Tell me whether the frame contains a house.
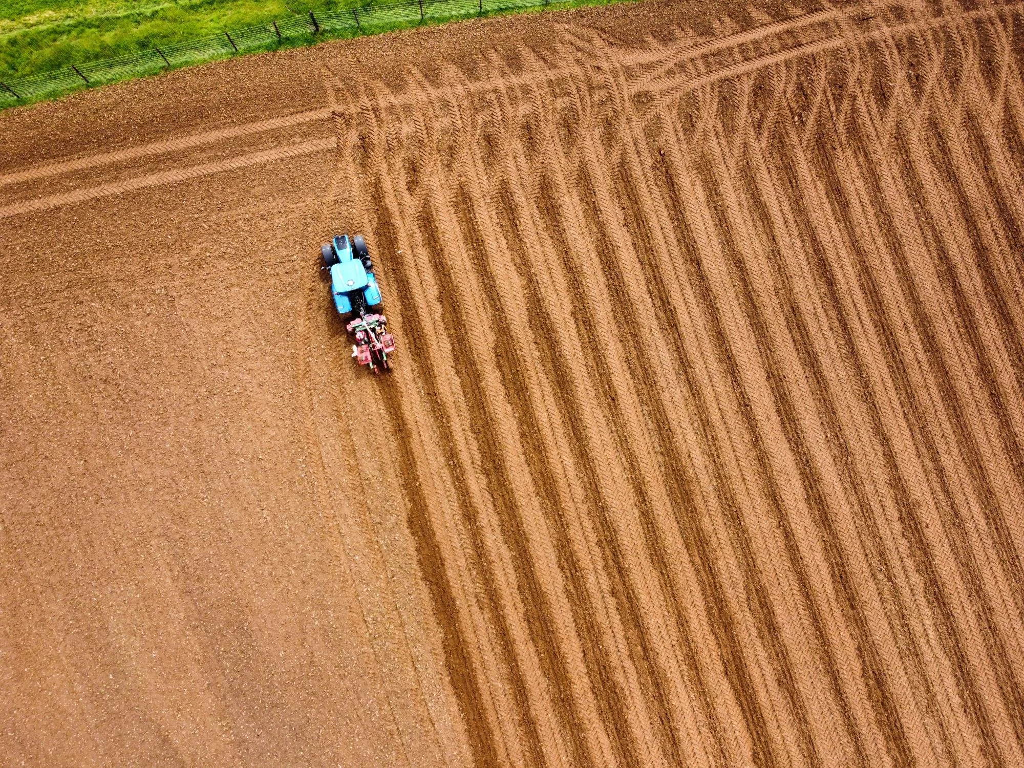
No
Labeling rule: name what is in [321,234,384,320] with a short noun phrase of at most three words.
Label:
work vehicle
